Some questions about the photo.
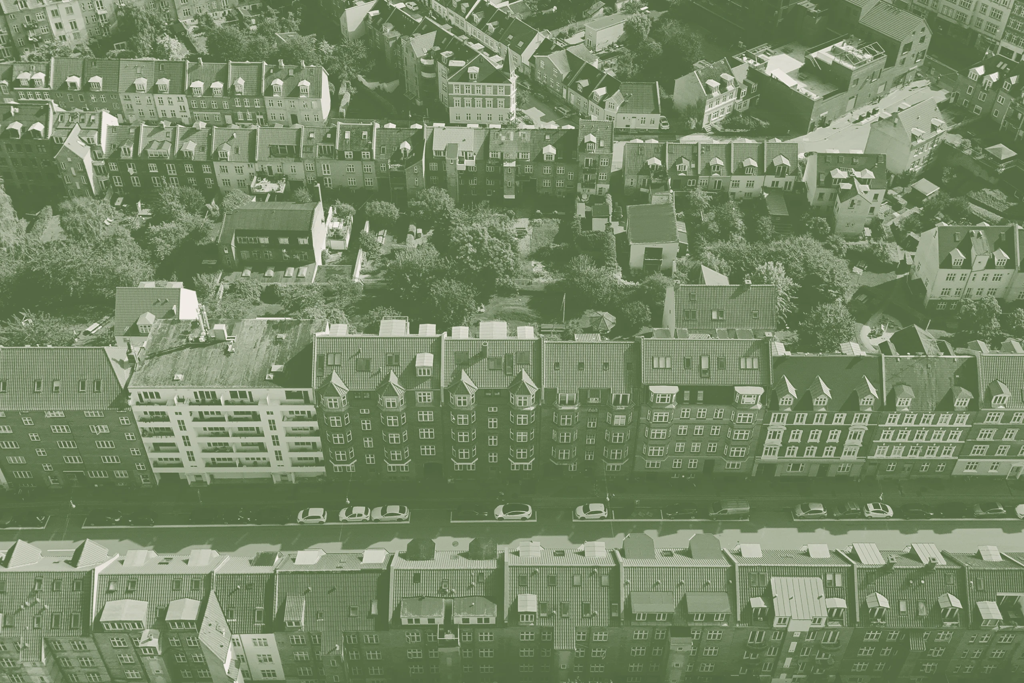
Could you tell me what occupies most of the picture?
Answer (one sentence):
For the most part, this view shows buildings.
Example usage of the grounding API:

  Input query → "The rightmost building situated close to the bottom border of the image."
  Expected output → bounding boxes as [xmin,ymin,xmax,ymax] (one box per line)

[945,541,1024,683]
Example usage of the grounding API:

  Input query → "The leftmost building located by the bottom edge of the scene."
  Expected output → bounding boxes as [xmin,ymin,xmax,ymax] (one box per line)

[0,537,117,683]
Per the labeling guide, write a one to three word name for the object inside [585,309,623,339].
gazebo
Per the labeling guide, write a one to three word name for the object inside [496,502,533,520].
car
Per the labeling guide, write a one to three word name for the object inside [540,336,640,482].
building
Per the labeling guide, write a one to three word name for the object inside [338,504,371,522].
car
